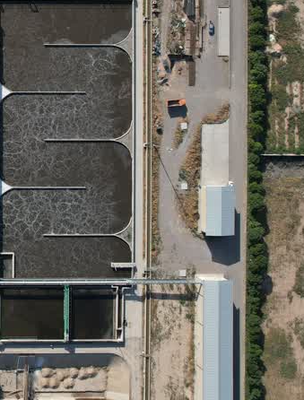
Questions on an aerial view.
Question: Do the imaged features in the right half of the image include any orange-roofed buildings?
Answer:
No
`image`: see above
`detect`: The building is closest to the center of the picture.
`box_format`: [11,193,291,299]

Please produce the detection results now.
[194,183,236,238]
